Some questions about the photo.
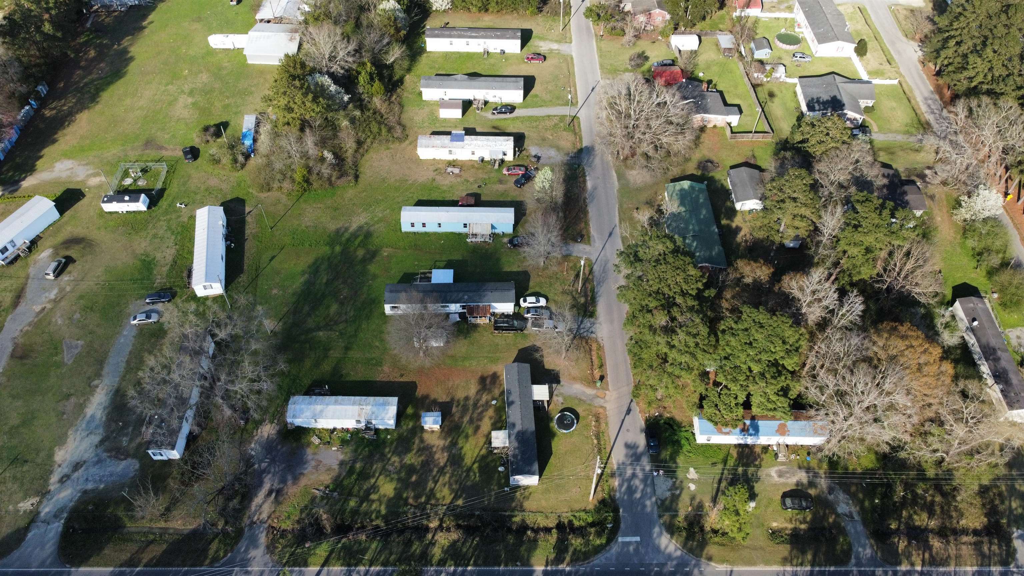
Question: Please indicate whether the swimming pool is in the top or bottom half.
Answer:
top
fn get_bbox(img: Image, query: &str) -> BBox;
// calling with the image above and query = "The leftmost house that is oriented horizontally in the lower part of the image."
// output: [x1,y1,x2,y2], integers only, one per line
[283,396,397,443]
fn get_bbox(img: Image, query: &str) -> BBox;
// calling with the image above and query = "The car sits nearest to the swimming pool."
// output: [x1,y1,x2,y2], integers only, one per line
[791,51,811,63]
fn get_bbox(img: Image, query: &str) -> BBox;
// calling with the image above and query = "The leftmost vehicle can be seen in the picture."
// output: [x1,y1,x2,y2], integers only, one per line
[44,259,68,281]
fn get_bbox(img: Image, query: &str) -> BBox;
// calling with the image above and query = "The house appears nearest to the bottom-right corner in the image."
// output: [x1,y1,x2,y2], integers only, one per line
[949,296,1024,420]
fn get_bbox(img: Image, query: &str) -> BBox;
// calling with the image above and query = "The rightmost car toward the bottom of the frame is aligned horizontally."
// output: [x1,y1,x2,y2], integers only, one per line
[779,496,814,512]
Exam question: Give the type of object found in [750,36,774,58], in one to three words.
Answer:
shed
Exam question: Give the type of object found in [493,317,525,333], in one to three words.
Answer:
car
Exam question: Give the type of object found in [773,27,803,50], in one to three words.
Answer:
swimming pool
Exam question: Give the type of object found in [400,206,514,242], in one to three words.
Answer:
house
